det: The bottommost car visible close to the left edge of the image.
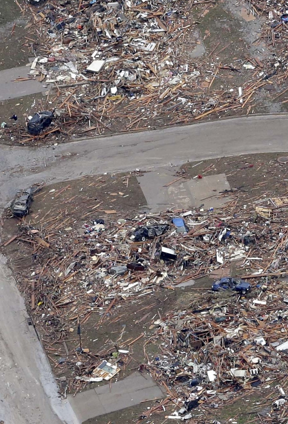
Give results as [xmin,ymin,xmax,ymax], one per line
[9,187,37,217]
